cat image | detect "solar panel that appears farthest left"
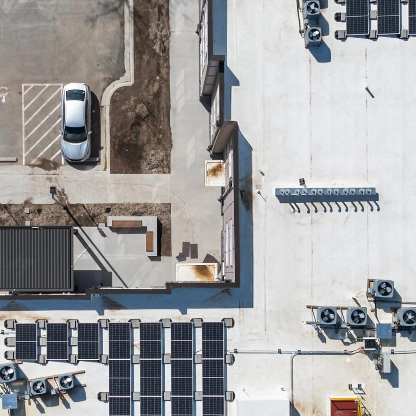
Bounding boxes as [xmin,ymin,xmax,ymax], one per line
[16,324,40,361]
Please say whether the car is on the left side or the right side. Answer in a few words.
left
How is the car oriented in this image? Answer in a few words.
vertically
